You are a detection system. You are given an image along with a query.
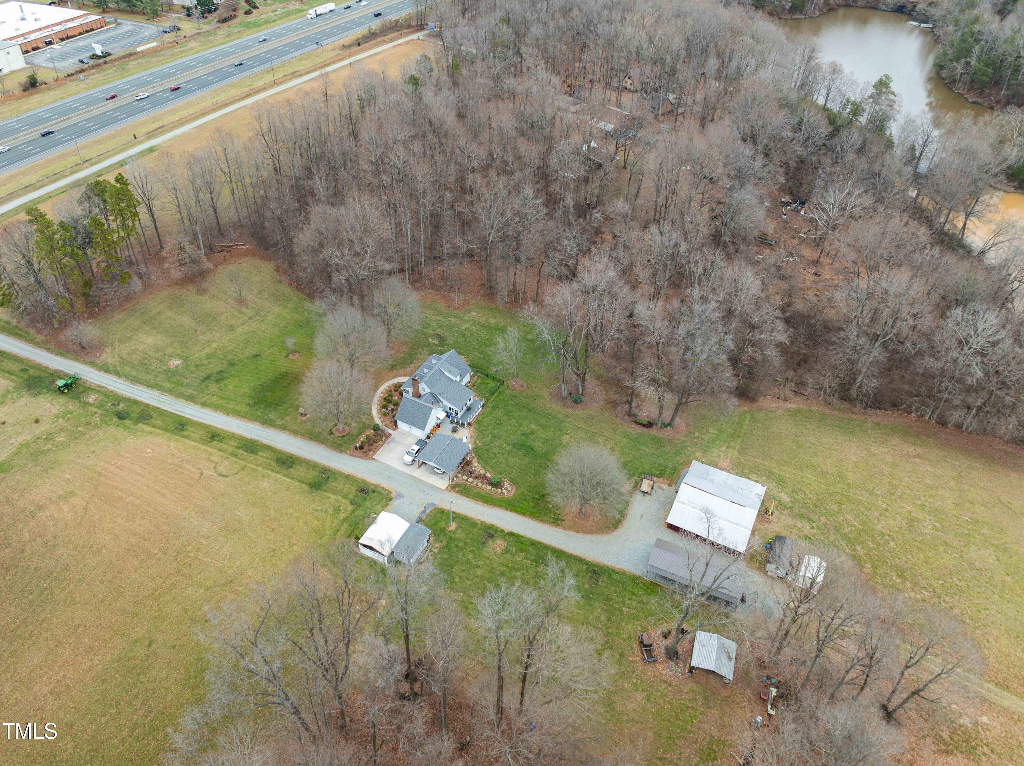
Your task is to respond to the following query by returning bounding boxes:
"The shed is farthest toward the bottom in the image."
[690,631,738,687]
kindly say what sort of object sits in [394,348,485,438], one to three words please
house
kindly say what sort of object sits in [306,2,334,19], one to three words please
vehicle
